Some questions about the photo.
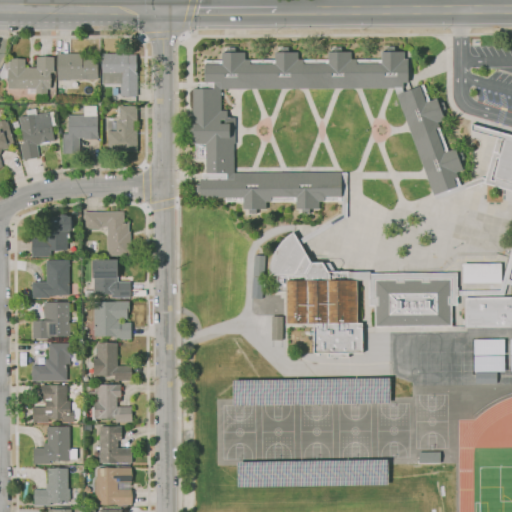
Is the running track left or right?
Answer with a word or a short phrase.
right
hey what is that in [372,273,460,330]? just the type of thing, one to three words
building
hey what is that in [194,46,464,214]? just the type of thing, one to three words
building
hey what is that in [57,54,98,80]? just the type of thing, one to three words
house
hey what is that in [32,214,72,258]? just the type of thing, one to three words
house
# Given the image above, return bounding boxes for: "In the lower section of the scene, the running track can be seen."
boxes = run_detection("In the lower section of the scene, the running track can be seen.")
[458,394,512,512]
